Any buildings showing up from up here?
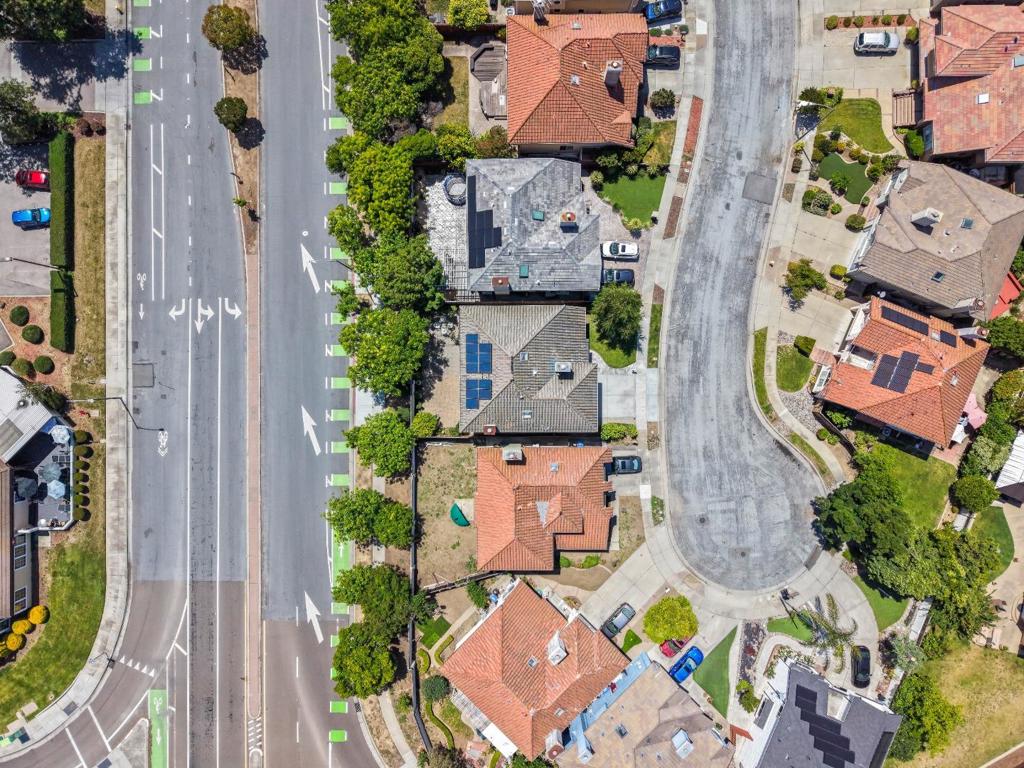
Yes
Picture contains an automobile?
Yes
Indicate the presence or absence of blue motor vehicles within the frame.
Yes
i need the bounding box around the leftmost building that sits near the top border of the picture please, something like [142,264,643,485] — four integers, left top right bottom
[505,0,648,153]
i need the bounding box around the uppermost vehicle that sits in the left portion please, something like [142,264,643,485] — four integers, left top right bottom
[14,170,53,189]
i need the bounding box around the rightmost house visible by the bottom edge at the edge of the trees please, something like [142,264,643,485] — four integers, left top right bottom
[737,649,905,768]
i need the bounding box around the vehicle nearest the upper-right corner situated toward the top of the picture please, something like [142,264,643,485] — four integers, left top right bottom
[855,30,899,53]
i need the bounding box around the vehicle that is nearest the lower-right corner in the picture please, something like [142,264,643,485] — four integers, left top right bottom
[850,645,873,687]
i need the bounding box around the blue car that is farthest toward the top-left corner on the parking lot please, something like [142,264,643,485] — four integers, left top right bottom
[8,208,53,229]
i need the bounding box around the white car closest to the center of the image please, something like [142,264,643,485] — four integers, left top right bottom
[601,240,640,259]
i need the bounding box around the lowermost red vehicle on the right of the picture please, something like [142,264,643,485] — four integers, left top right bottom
[658,633,694,661]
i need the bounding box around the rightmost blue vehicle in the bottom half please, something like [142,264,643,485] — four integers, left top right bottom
[669,645,707,681]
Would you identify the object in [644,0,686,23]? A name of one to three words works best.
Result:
car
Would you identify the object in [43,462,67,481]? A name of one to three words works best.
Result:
umbrella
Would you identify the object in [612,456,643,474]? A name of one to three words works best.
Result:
car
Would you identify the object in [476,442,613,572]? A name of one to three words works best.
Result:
house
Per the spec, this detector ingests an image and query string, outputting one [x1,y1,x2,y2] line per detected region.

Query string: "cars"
[647,45,682,68]
[850,645,873,687]
[601,268,636,286]
[644,0,686,23]
[601,240,640,259]
[855,30,899,53]
[658,633,694,661]
[14,170,53,189]
[612,456,643,474]
[8,208,53,229]
[669,645,707,681]
[600,602,637,640]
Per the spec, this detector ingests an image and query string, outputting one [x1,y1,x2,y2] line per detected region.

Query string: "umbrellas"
[49,480,70,498]
[960,406,985,430]
[950,424,963,440]
[53,424,72,443]
[43,462,67,481]
[19,476,43,497]
[963,394,978,408]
